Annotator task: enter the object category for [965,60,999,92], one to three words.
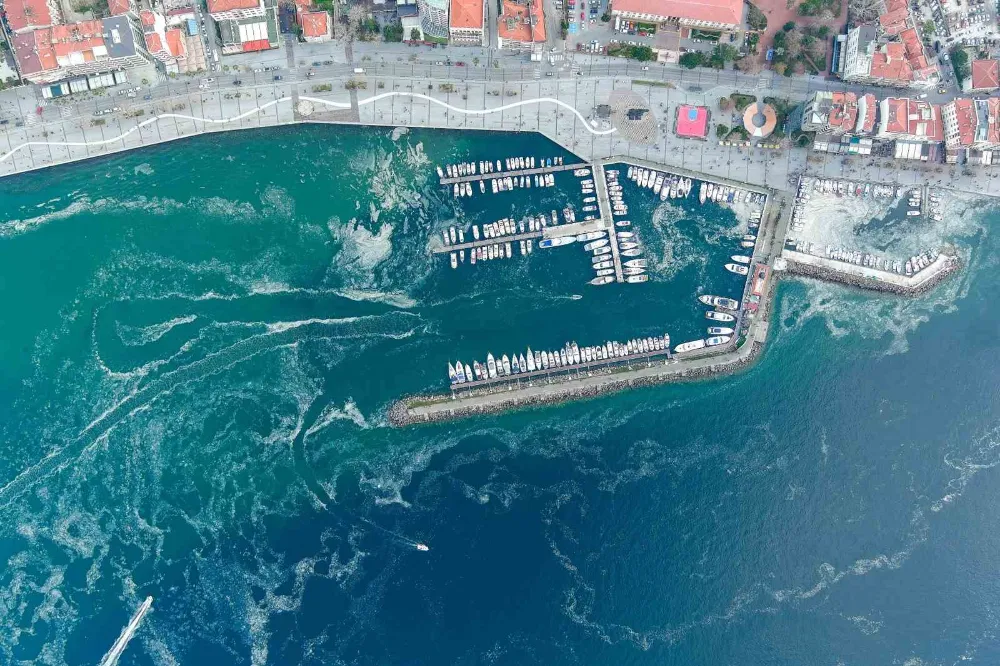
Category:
house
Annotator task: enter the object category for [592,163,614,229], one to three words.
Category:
pier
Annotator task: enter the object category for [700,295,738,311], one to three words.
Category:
boat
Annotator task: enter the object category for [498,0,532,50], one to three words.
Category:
building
